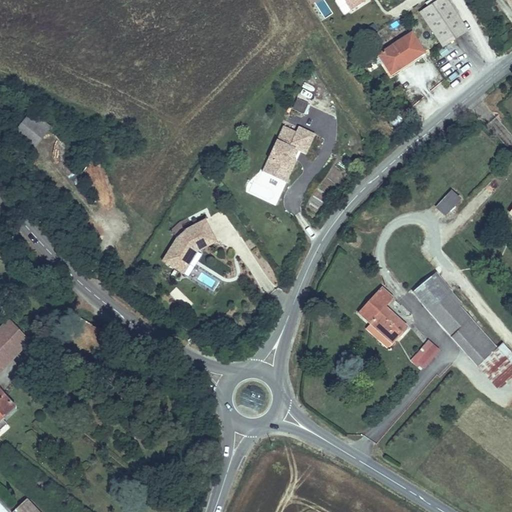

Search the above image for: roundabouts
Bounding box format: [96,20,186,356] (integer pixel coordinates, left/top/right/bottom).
[208,350,300,449]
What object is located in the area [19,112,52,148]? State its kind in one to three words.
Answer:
barn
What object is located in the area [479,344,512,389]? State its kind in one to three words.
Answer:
building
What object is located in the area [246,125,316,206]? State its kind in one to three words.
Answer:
house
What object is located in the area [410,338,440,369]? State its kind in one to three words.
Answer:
shed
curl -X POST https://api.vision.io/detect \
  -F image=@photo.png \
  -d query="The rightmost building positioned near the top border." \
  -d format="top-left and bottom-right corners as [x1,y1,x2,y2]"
[420,0,468,48]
